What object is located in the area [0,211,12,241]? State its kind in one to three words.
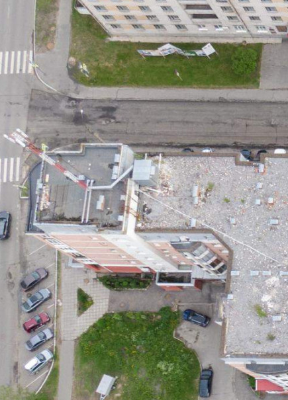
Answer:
vehicle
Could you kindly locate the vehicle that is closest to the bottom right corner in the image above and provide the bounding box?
[198,370,215,398]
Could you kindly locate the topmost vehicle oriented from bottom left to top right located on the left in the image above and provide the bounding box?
[19,267,51,292]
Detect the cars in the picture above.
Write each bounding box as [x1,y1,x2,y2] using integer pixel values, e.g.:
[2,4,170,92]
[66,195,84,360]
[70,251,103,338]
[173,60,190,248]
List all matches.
[201,147,213,154]
[21,310,53,334]
[23,327,57,352]
[198,370,215,398]
[255,151,268,163]
[180,308,211,329]
[0,211,12,241]
[20,287,54,313]
[22,347,57,376]
[19,267,51,292]
[239,150,254,163]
